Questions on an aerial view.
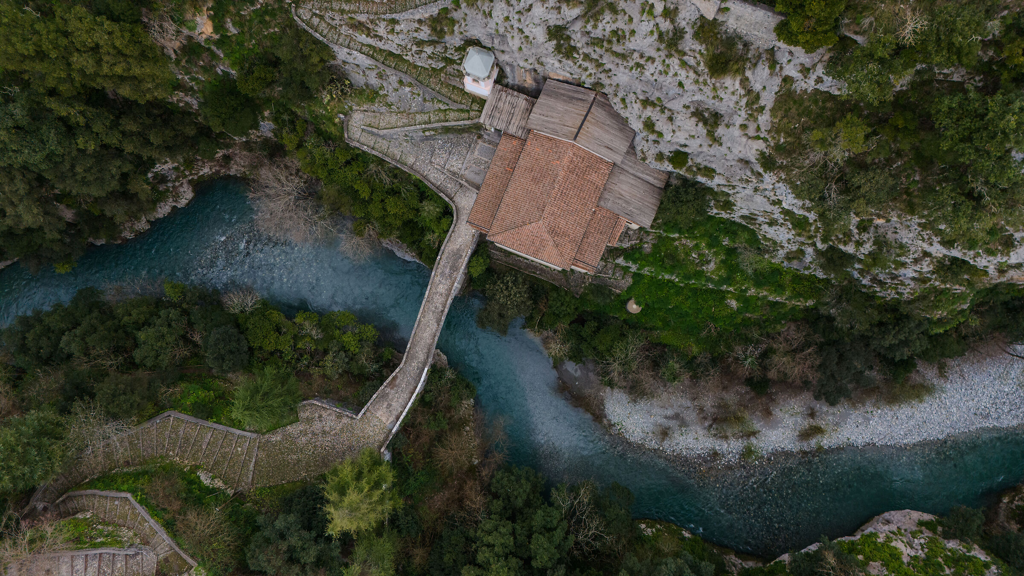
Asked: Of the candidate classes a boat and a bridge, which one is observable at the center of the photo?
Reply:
bridge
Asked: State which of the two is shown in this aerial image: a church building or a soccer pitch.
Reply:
church building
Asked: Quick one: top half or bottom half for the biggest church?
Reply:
top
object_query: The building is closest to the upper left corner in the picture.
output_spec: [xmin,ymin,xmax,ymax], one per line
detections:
[462,47,499,98]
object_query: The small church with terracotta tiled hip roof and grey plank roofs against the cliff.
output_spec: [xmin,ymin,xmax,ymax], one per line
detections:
[466,78,667,273]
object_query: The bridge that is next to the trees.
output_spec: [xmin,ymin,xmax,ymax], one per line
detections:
[358,213,481,450]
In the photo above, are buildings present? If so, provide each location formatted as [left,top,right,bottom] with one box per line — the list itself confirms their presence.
[466,78,667,273]
[462,47,499,98]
